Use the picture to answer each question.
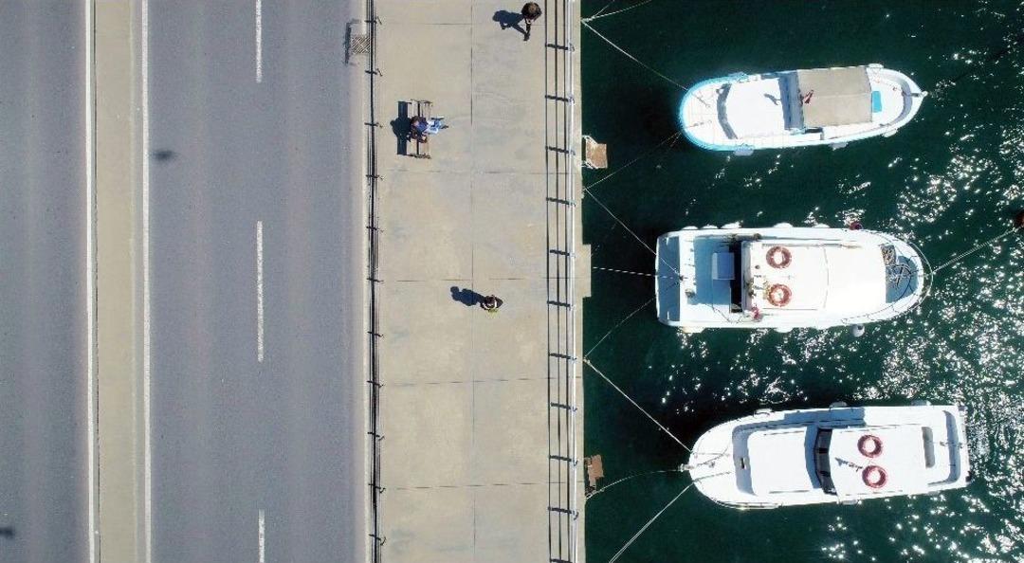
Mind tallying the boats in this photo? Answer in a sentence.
Looking from above, you can make out 3 boats.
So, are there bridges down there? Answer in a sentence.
No, the frame has no bridge in it.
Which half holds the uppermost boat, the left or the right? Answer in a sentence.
The uppermost boat appears in the right half of the scene.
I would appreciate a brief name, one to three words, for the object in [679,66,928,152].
boat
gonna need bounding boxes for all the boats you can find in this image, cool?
[657,228,931,327]
[679,66,928,152]
[679,404,973,508]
